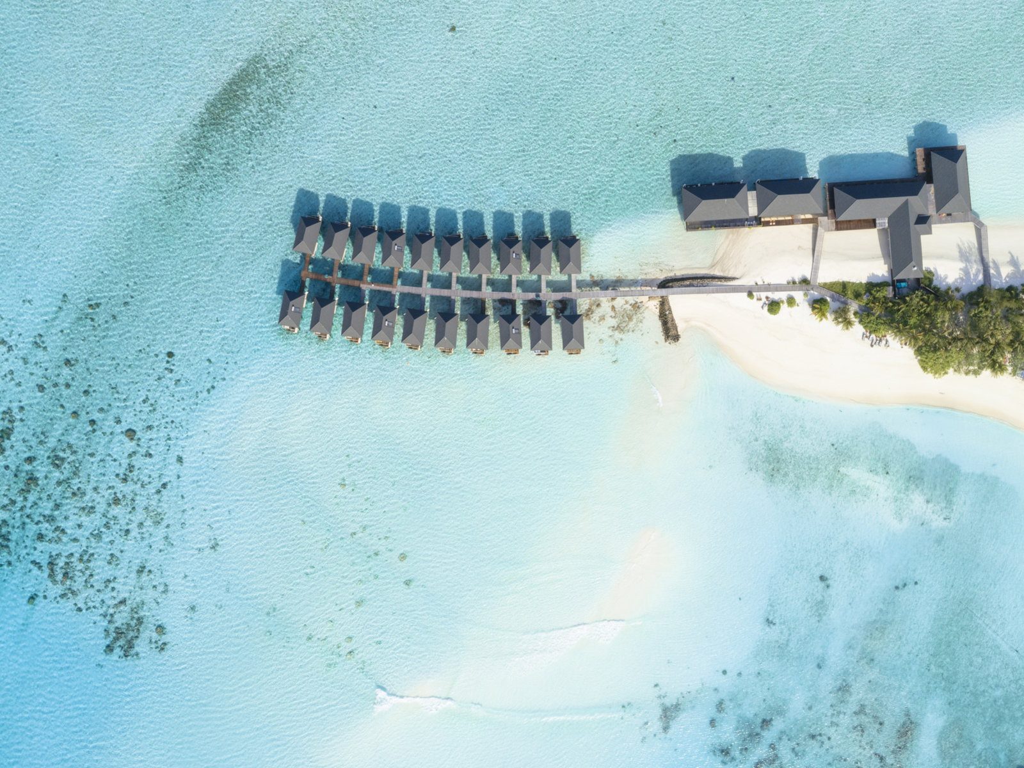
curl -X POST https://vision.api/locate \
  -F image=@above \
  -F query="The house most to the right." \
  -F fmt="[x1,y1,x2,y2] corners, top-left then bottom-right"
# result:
[914,144,974,224]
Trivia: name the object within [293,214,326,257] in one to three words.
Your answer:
house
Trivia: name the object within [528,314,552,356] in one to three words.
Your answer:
house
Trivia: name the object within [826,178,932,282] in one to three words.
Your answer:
building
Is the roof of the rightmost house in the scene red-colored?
No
